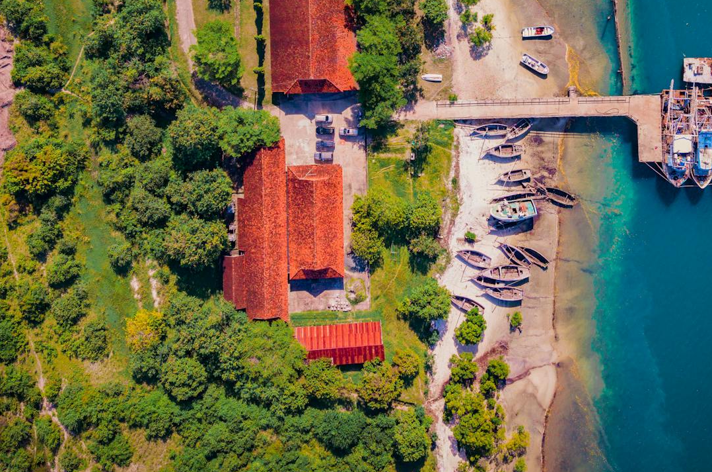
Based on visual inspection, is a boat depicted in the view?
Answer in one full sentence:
Yes, there's a boat here.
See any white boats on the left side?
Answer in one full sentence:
No, no white boat is visible on the left side.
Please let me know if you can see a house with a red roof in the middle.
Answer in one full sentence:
Yes, in the middle there is a house with a red roof.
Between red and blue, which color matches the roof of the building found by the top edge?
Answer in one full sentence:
The roof of the building found by the top edge looks red in the image.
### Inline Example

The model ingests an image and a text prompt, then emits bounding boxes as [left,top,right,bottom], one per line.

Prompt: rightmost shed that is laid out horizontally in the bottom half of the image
[296,319,386,361]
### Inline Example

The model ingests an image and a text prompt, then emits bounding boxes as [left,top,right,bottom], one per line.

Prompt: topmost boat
[521,26,554,38]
